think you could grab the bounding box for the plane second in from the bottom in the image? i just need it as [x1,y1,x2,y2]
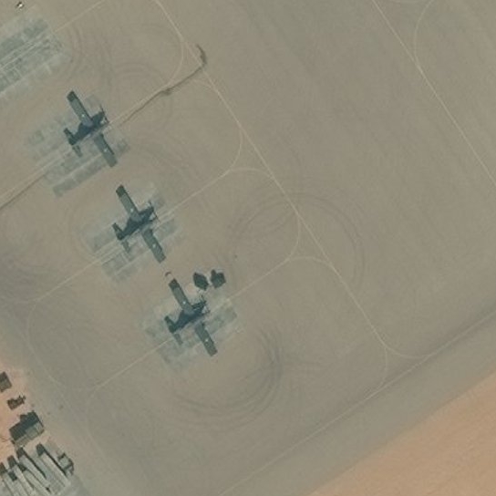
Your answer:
[113,195,166,260]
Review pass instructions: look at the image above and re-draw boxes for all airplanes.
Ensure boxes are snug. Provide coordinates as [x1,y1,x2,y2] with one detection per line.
[65,99,117,165]
[166,289,218,354]
[113,195,166,260]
